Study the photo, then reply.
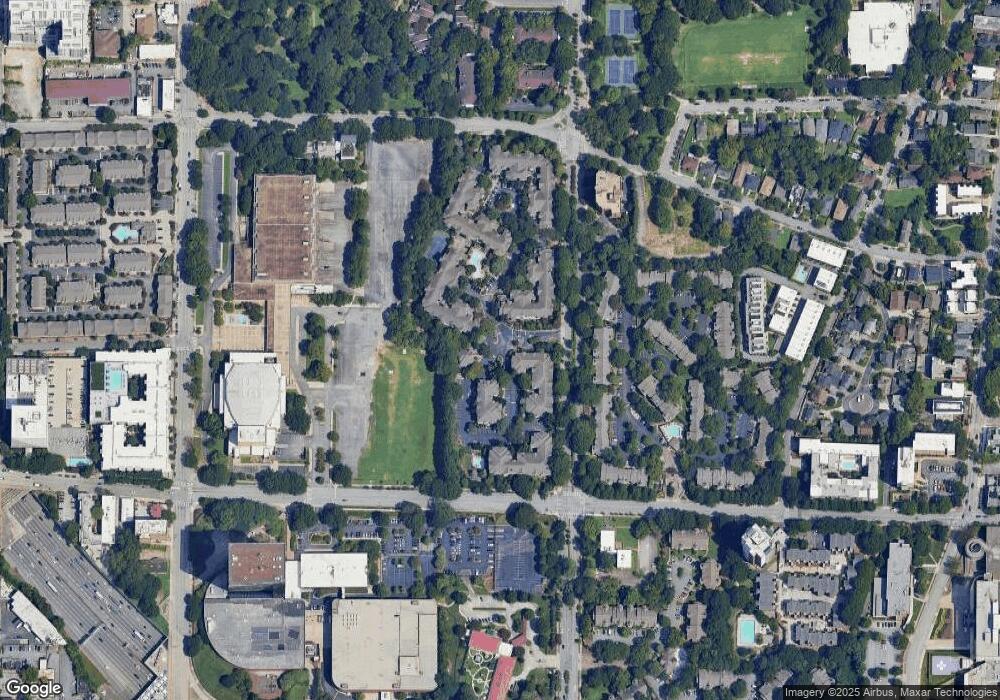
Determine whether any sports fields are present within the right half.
Yes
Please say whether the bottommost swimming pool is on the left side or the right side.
right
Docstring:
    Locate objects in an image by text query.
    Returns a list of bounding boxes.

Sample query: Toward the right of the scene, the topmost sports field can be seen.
[679,14,811,96]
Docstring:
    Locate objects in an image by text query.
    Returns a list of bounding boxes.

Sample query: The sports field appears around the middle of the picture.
[357,345,434,486]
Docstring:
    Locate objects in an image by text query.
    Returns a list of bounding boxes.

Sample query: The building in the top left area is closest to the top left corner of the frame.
[9,0,90,68]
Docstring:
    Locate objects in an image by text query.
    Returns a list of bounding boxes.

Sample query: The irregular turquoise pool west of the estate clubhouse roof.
[112,222,140,243]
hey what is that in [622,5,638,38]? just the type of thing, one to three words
tennis court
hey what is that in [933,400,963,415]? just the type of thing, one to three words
house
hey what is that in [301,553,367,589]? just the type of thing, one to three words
building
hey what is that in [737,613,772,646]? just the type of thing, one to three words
swimming pool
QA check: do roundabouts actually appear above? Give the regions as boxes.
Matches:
[843,384,879,420]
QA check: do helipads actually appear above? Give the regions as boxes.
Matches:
[932,655,961,676]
